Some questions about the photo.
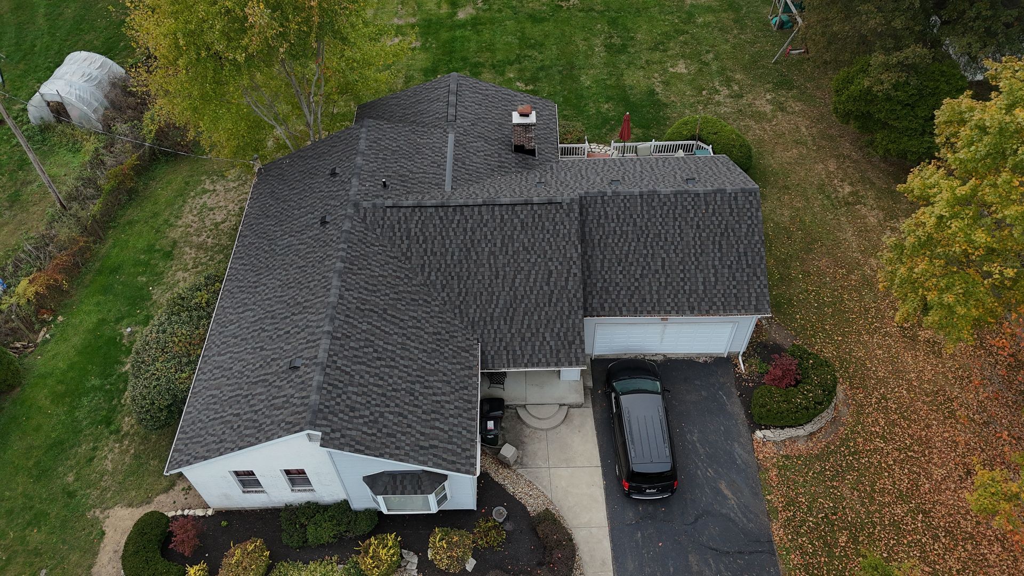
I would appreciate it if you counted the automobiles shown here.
1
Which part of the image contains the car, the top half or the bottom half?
bottom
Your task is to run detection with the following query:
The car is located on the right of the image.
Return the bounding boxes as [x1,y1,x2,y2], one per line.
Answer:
[604,363,680,502]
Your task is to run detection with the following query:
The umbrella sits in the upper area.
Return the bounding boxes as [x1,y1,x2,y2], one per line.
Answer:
[617,113,632,150]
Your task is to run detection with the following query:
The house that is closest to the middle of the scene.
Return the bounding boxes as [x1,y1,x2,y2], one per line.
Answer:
[162,73,772,516]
